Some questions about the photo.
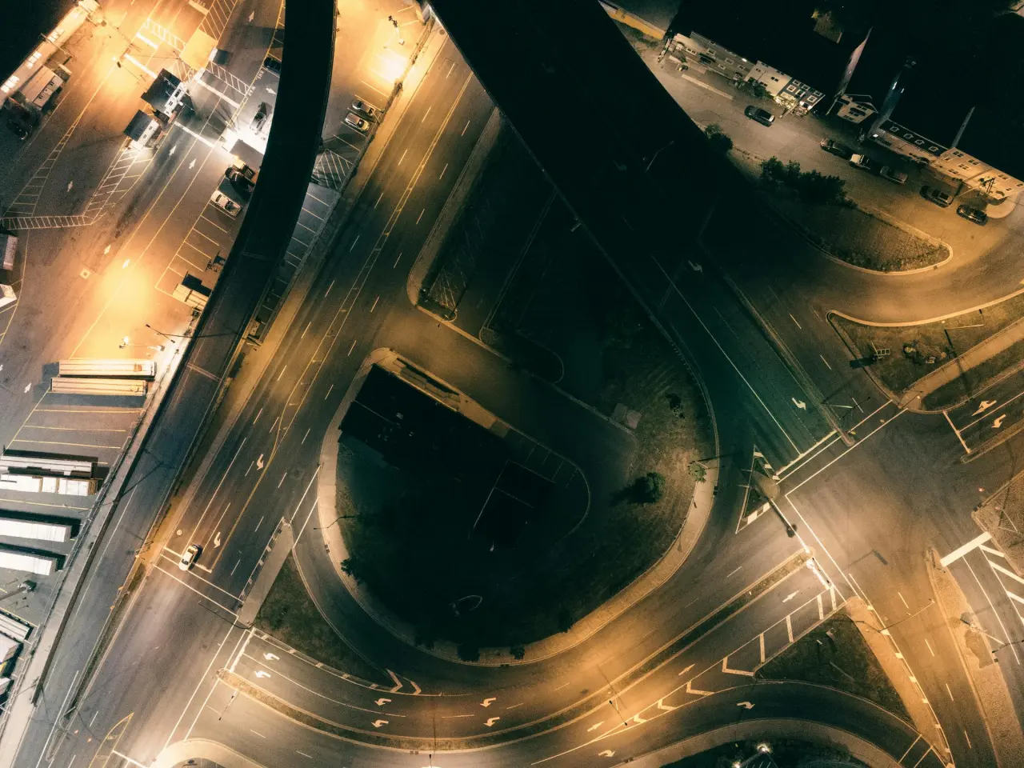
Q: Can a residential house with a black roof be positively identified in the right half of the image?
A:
Yes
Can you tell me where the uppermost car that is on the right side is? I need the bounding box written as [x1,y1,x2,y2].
[744,106,774,127]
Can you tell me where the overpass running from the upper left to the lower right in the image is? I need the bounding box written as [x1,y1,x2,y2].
[428,0,763,303]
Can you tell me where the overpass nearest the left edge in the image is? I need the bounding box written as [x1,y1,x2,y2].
[24,0,341,705]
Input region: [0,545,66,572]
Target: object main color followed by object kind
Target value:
white trailer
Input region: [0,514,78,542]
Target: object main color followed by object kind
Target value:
white trailer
